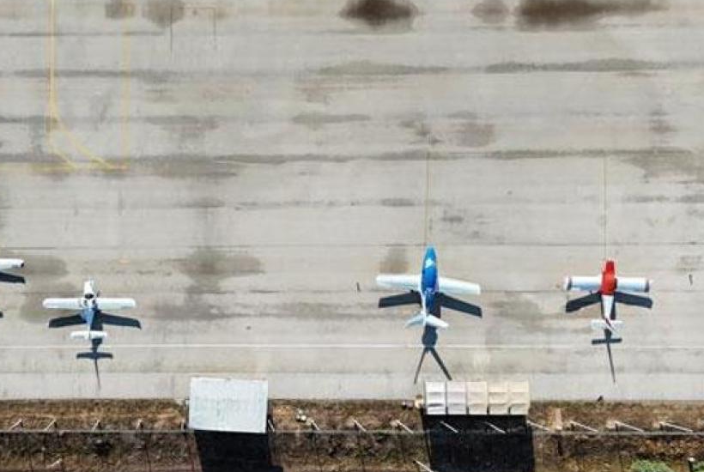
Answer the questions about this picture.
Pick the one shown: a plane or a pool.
plane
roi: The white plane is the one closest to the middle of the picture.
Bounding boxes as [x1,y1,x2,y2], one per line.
[378,247,481,330]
